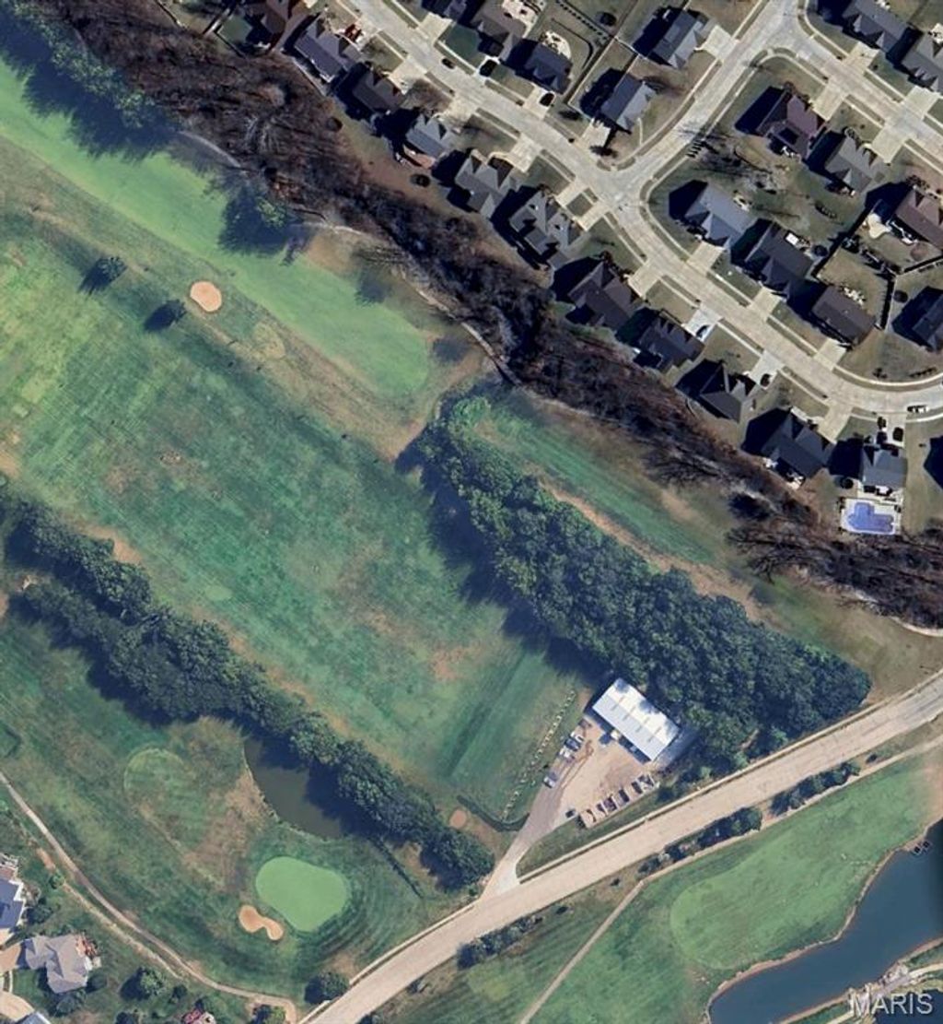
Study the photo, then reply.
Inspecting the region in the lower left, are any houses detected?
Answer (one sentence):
Yes, there is a house in the lower left.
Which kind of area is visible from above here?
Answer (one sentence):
The area seen from above is a golf course.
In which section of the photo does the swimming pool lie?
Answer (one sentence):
The swimming pool appears toward the right of the photo.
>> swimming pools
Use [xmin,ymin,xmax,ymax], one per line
[841,499,902,536]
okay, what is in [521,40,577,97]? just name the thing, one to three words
house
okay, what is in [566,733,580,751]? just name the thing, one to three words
vehicle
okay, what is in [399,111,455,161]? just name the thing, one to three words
house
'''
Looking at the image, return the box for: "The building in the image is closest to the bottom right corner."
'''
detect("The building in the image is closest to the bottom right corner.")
[592,677,681,762]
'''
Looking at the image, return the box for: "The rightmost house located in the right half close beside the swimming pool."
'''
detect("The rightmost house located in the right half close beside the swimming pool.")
[861,445,911,489]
